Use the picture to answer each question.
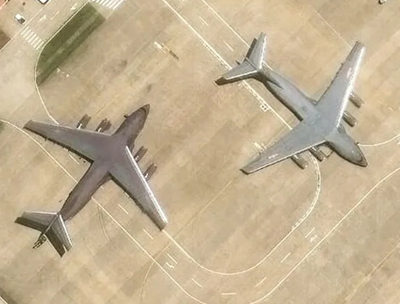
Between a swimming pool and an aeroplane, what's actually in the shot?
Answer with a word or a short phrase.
aeroplane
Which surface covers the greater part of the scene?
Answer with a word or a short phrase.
paved ground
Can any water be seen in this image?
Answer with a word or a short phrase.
No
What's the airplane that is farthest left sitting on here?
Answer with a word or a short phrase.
apron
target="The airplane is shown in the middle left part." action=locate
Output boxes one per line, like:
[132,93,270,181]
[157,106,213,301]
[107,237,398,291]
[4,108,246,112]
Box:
[24,105,168,255]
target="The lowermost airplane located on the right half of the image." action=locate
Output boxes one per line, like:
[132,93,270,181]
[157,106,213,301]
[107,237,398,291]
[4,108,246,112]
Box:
[223,31,367,173]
